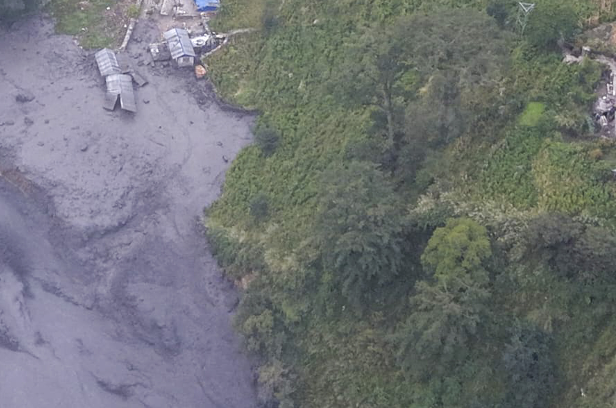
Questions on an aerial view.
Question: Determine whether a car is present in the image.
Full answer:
No, I find no car anywhere in the image.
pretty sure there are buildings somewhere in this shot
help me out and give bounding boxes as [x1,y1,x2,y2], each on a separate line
[189,0,221,16]
[163,28,197,72]
[103,75,137,113]
[94,48,124,75]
